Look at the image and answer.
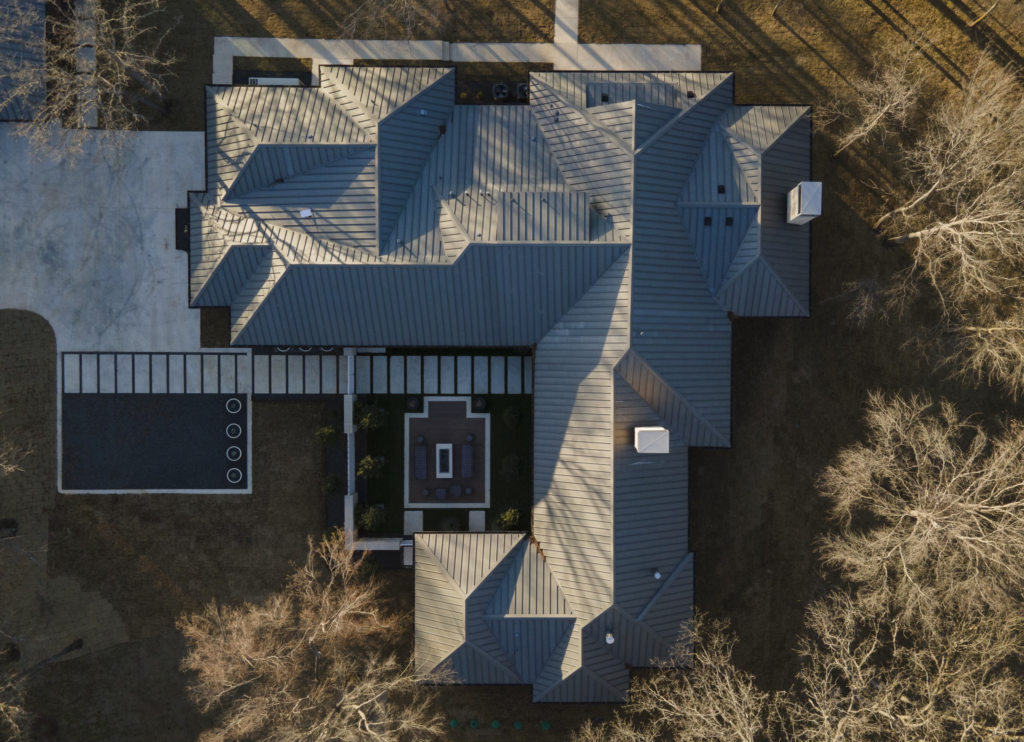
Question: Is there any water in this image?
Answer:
No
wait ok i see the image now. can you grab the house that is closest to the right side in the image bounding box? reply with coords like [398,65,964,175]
[186,63,822,705]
